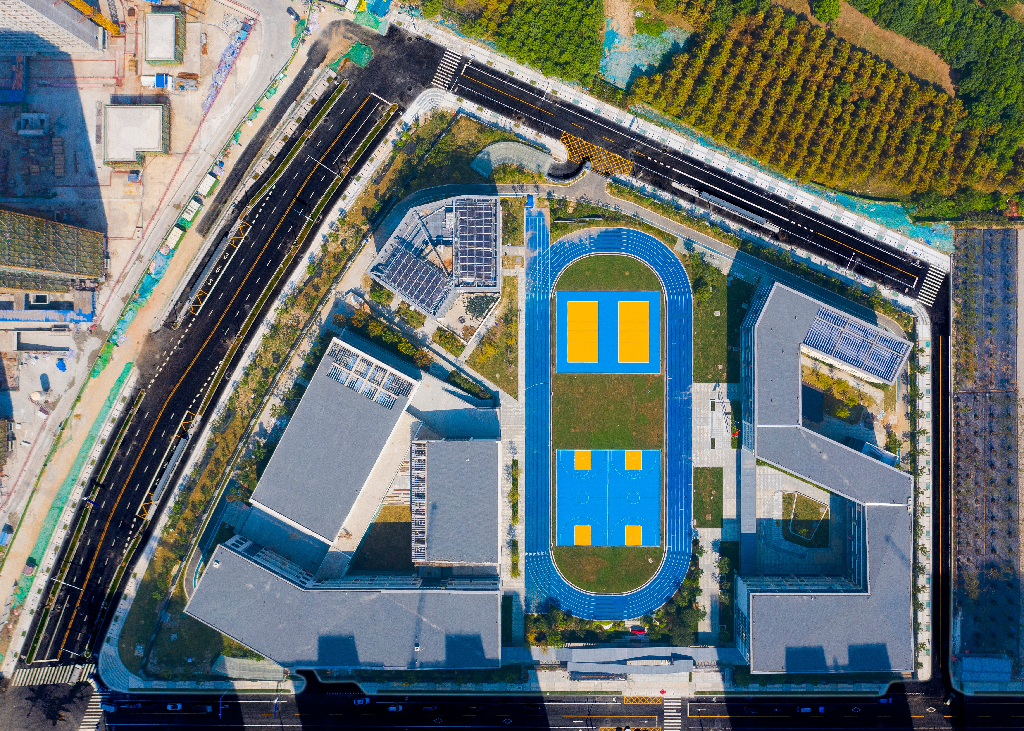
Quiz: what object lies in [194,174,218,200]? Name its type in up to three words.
building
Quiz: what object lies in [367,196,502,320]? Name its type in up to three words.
building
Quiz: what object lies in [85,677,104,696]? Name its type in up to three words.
vehicle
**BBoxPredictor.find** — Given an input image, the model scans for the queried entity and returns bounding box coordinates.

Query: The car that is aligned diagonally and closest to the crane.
[286,4,300,22]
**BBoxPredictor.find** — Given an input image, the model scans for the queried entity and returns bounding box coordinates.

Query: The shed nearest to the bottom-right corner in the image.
[956,652,1013,682]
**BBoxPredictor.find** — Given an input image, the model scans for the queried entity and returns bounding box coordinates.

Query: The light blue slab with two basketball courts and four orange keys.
[556,449,661,546]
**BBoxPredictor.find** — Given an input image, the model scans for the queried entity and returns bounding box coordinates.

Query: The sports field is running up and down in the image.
[552,255,665,593]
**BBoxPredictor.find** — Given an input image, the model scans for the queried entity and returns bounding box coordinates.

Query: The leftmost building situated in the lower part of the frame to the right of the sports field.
[734,282,915,674]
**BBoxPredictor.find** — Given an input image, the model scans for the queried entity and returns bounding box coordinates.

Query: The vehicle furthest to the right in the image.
[943,692,957,707]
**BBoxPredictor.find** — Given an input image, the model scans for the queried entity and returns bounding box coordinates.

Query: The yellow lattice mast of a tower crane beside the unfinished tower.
[61,0,123,40]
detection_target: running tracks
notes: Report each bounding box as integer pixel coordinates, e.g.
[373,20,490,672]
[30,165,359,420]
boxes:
[524,207,693,621]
